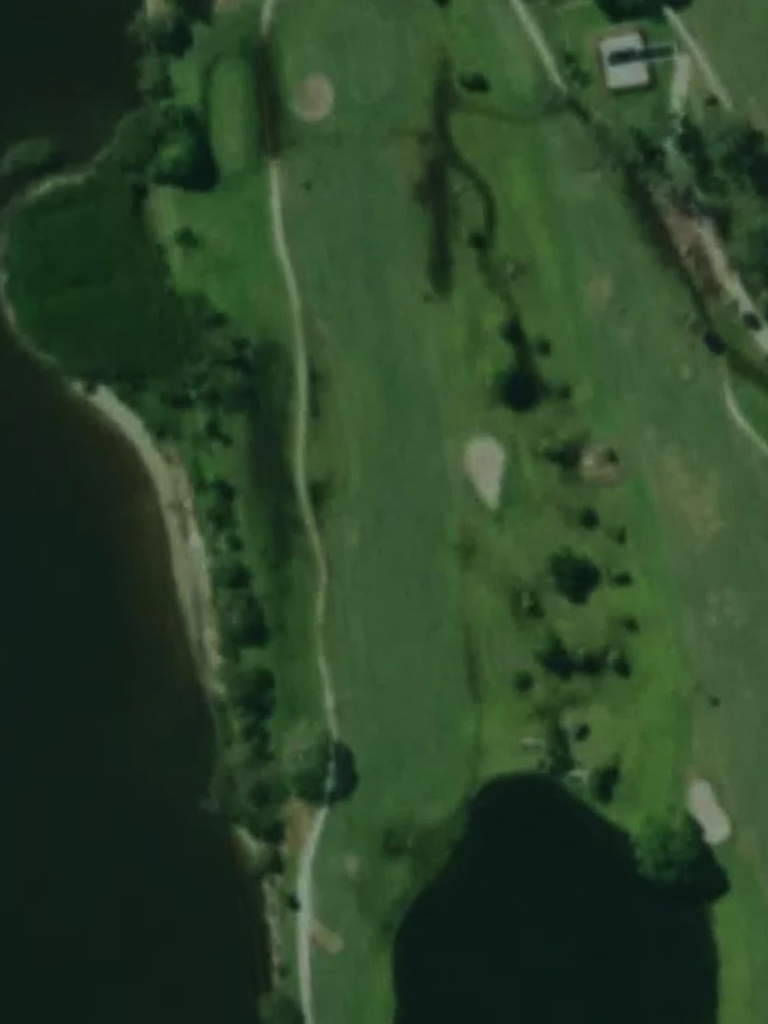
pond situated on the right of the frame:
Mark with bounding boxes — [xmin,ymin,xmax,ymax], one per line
[392,774,720,1024]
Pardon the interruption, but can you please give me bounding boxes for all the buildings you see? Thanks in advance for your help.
[600,33,648,87]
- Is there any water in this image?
Yes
